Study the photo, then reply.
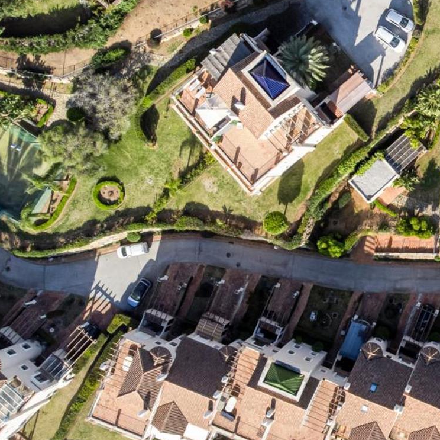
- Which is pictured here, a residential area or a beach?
residential area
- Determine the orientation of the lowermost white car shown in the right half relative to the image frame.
diagonally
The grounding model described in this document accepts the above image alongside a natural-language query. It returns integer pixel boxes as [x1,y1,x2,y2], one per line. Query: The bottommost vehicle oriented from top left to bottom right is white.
[370,23,409,55]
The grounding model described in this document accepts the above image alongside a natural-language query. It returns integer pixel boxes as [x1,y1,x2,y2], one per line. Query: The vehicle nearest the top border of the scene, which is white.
[380,7,419,35]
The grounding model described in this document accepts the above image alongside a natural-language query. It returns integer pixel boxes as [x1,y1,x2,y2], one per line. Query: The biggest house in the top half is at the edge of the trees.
[168,34,374,195]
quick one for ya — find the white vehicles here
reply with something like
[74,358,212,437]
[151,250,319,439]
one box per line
[370,23,409,55]
[116,242,151,260]
[380,7,419,35]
